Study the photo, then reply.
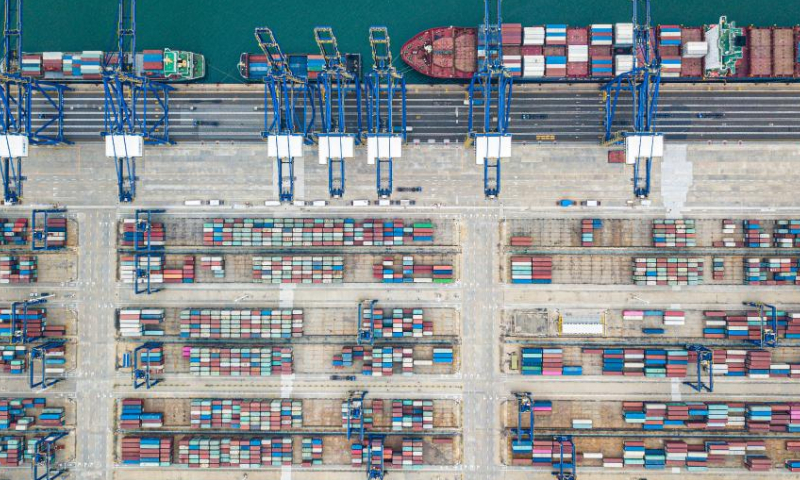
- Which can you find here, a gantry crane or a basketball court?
gantry crane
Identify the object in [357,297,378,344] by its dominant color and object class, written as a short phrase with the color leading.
blue crane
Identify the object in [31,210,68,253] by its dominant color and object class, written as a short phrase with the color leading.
blue crane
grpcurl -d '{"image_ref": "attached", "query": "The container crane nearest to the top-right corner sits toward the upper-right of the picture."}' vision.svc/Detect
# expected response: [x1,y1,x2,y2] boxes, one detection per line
[591,0,668,202]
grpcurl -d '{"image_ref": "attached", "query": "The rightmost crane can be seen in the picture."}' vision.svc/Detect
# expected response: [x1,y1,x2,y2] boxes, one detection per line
[739,302,777,348]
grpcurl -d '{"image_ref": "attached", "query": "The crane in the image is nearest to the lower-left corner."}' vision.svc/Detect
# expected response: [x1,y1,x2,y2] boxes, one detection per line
[34,430,70,480]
